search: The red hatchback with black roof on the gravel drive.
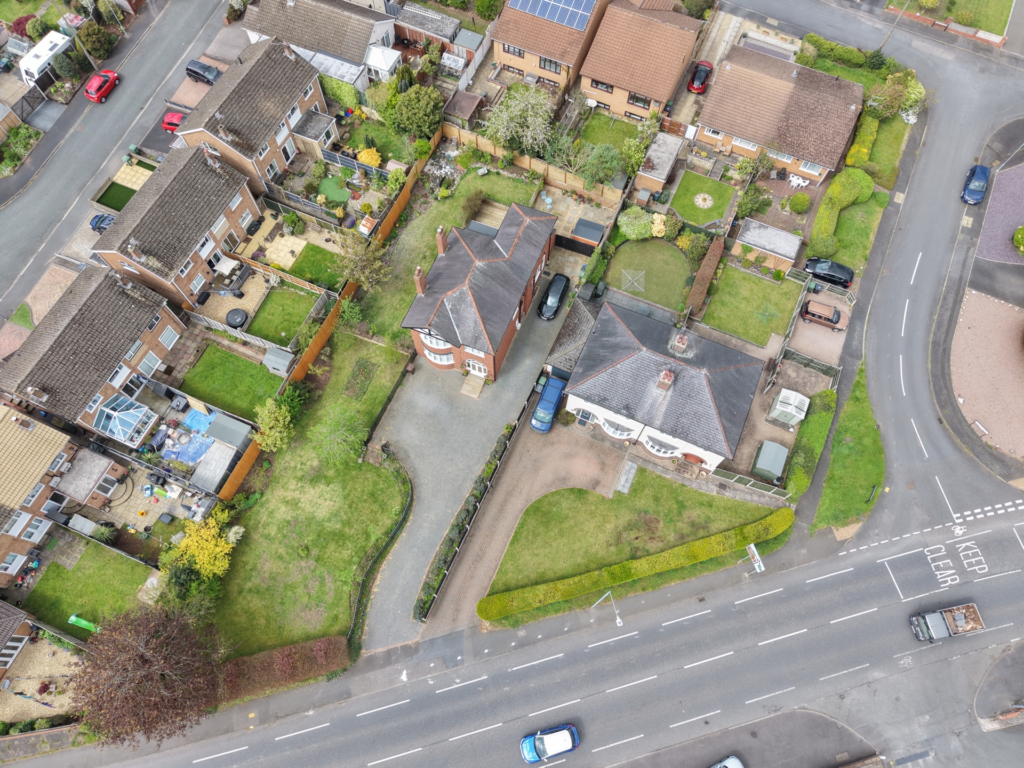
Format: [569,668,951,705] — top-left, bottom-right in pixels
[688,63,714,95]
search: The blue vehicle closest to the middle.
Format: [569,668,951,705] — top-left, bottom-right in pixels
[532,375,566,430]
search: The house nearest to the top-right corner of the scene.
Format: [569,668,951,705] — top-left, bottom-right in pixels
[696,43,882,185]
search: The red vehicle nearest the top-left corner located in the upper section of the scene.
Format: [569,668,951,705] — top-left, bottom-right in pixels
[85,72,122,102]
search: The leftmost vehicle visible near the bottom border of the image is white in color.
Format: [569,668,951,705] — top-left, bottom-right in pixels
[519,723,580,763]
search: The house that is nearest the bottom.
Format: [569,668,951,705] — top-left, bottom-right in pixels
[0,595,42,680]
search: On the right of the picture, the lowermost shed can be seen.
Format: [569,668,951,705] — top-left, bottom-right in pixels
[750,441,787,482]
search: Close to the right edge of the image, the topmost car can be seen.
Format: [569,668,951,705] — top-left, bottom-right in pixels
[960,163,993,204]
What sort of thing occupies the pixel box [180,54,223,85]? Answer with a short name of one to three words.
car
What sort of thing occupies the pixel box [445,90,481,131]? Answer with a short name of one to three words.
shed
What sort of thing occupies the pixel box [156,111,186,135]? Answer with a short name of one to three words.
car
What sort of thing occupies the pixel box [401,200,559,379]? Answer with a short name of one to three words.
house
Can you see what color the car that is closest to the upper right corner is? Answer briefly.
blue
